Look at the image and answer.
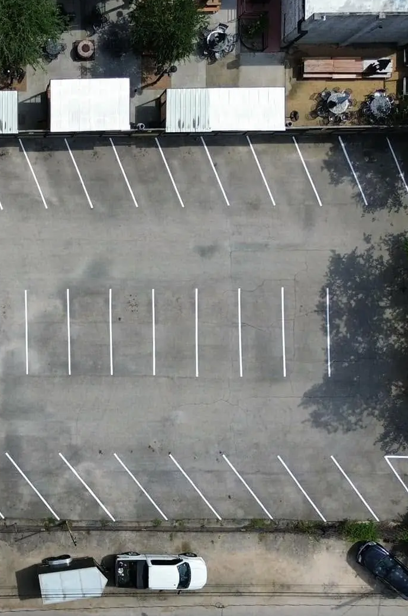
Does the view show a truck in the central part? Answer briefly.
No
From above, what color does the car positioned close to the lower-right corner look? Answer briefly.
black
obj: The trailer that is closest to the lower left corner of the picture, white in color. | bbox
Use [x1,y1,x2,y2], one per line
[37,554,114,603]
